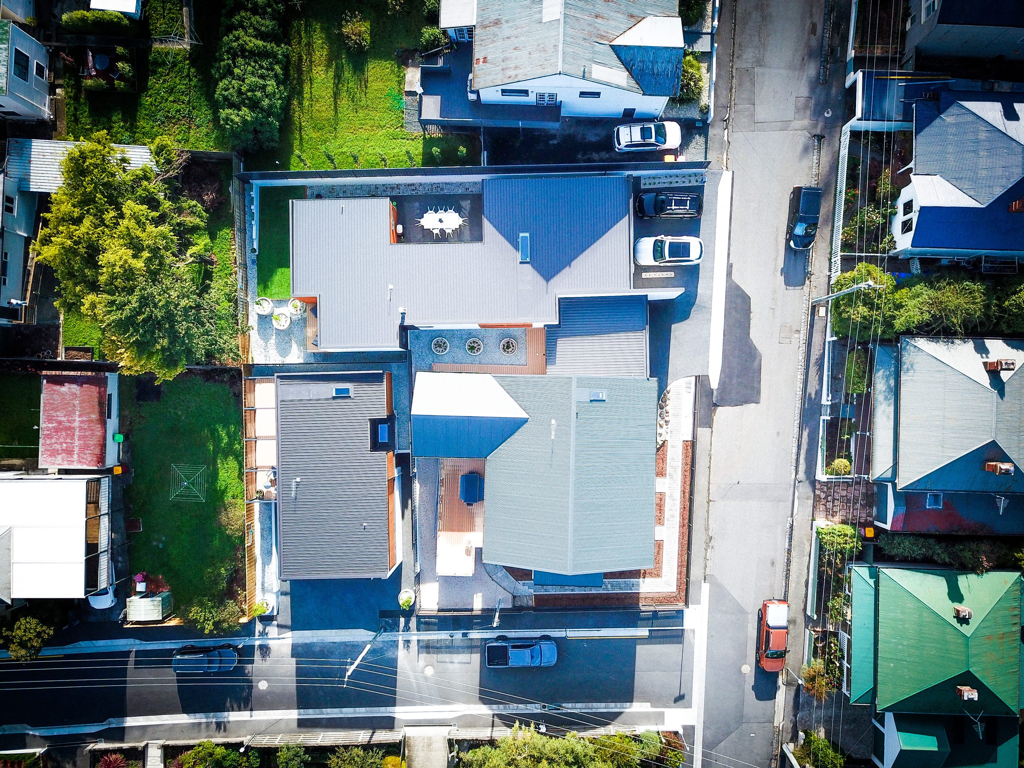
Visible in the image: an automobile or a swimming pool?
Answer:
automobile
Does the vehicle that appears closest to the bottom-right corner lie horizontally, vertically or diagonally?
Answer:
vertically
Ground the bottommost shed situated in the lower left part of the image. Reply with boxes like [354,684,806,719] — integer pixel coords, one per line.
[113,590,173,623]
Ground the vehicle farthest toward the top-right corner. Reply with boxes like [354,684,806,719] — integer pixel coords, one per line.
[785,181,824,256]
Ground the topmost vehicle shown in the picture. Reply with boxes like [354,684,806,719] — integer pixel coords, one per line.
[609,117,681,156]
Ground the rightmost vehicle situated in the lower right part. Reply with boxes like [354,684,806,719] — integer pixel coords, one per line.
[756,596,793,672]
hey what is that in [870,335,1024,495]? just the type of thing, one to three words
house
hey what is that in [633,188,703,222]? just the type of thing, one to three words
car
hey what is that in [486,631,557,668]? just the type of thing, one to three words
vehicle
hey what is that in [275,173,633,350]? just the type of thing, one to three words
house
